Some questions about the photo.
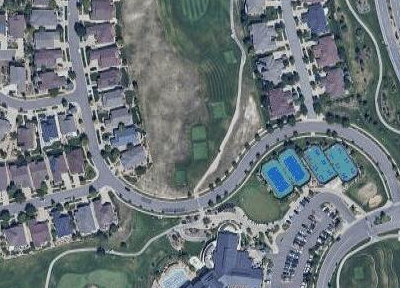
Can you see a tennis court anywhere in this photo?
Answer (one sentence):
Yes, this view includes a tennis court.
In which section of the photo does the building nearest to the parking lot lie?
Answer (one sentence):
You can find the building nearest to the parking lot in the bottom area of the picture.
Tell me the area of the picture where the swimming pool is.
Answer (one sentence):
The swimming pool appears toward the bottom of the photo.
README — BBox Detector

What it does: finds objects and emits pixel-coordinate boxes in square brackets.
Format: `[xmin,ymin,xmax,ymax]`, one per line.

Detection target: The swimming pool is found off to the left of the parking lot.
[151,262,197,288]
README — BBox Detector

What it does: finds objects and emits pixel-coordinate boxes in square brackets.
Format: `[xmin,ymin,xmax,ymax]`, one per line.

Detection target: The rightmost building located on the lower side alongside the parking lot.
[180,222,263,288]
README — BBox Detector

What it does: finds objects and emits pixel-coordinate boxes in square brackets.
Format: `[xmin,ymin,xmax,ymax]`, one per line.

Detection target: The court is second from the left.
[278,149,310,186]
